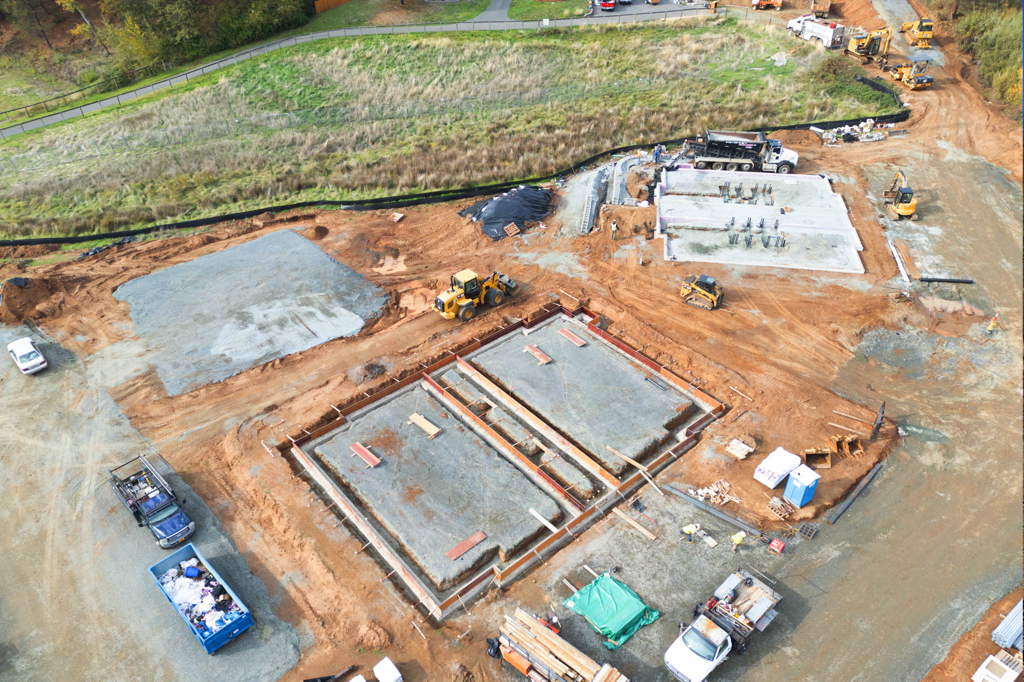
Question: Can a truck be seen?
Yes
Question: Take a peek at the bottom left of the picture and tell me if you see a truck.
Yes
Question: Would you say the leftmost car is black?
No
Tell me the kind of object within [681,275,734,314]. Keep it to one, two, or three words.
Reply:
work vehicle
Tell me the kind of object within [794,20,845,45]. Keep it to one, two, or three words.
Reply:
truck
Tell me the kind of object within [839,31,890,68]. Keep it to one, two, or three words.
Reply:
work vehicle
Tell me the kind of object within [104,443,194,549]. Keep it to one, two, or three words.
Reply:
truck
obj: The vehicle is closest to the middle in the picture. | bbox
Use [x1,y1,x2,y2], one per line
[434,269,521,324]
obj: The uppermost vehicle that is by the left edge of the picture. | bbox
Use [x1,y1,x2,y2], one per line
[4,331,46,372]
